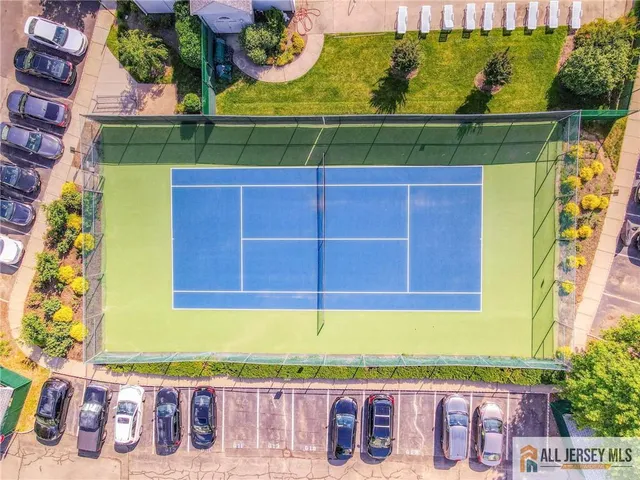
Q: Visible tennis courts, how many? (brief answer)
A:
1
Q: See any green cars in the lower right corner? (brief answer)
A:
No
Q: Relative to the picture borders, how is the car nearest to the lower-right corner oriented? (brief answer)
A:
from top to bottom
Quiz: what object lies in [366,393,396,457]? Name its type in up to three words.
car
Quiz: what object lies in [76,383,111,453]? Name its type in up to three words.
truck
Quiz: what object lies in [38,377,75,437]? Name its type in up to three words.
car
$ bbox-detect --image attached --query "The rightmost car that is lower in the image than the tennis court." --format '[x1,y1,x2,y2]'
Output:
[475,399,506,464]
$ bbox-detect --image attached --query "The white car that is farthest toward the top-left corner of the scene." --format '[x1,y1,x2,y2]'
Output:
[28,19,91,58]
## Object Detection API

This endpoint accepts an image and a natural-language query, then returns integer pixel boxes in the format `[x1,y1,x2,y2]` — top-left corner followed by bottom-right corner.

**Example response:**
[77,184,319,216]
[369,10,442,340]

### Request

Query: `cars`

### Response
[2,121,66,156]
[475,399,506,464]
[153,386,184,450]
[114,384,146,444]
[28,19,91,58]
[330,394,359,458]
[0,191,40,224]
[38,377,75,437]
[189,386,219,446]
[441,392,472,459]
[0,229,27,258]
[366,393,396,457]
[11,93,72,128]
[0,158,44,191]
[16,49,79,87]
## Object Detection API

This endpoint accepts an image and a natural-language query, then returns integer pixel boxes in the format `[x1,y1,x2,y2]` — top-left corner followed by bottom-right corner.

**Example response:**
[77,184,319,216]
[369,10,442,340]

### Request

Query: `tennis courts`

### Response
[102,121,558,359]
